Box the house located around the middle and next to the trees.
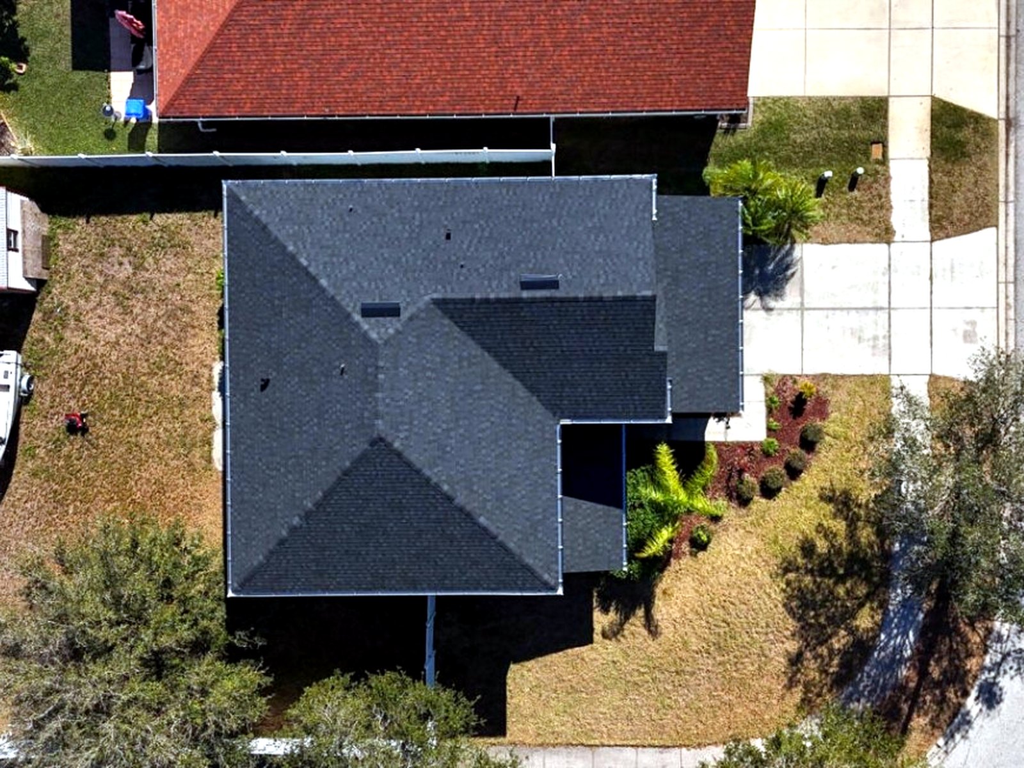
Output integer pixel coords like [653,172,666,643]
[224,175,744,598]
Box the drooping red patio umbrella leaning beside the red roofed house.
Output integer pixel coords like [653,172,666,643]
[110,14,155,48]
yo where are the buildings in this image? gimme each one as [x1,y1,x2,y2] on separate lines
[0,186,38,296]
[224,175,744,598]
[154,0,758,131]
